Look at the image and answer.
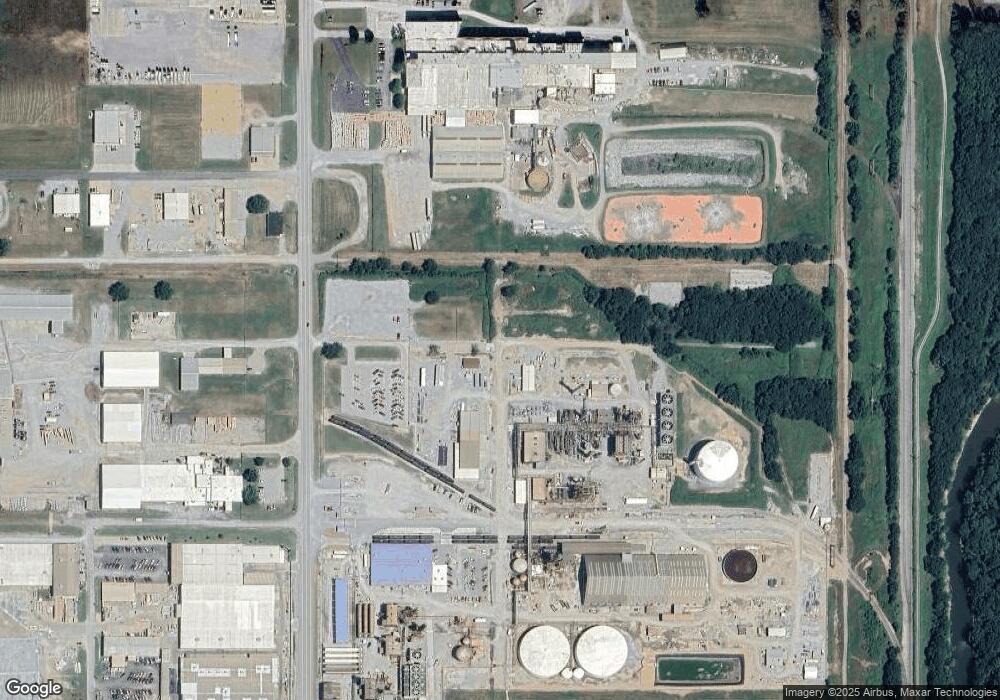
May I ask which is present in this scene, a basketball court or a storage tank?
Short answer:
storage tank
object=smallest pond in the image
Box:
[654,655,745,686]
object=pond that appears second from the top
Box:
[603,193,765,245]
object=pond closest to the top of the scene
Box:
[604,136,766,189]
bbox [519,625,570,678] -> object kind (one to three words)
storage tank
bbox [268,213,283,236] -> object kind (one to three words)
house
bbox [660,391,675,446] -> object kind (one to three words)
cooling tower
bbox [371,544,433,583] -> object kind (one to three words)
building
